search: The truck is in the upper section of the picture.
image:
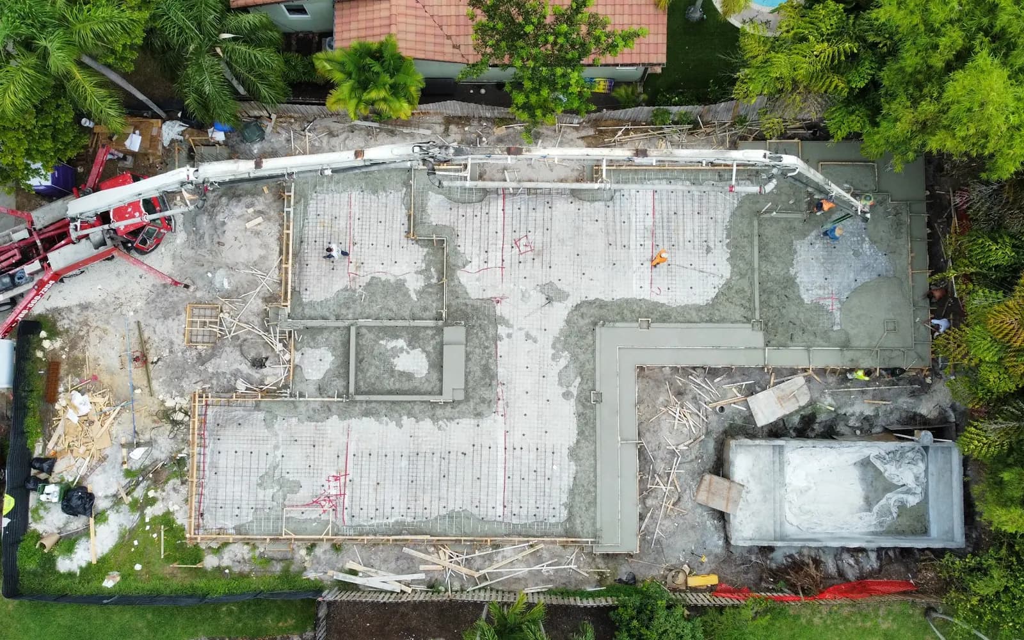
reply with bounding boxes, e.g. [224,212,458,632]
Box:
[0,140,871,338]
